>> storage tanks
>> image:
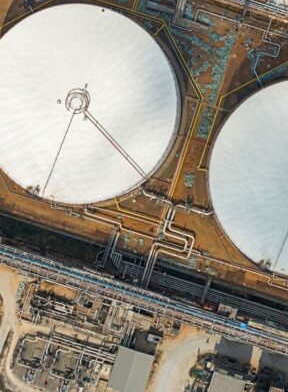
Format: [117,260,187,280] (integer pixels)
[0,1,191,208]
[207,78,288,283]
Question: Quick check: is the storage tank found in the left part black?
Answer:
No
